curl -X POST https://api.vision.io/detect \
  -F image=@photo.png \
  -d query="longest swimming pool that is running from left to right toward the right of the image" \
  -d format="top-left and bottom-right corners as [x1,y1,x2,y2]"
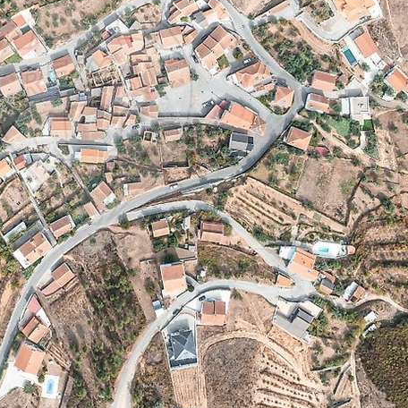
[311,241,360,256]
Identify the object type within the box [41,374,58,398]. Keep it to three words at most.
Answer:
swimming pool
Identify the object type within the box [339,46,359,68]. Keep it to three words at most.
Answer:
swimming pool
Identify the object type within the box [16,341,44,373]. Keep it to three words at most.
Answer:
house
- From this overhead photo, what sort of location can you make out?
residential area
